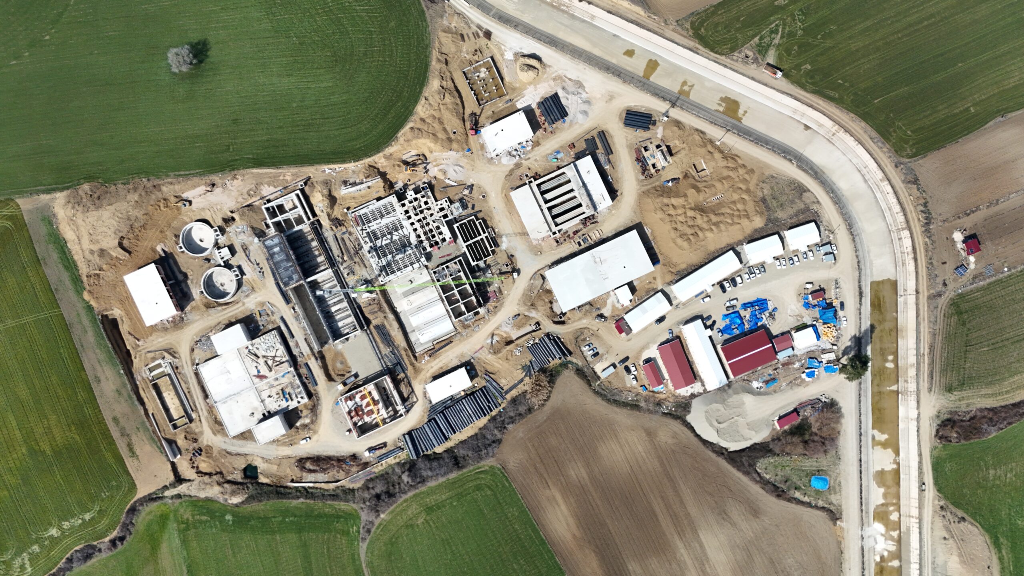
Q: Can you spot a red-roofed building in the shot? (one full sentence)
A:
Yes, there's a red-roofed building here.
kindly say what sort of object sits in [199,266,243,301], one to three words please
storage tank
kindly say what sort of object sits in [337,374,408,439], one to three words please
building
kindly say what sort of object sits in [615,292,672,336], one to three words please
shed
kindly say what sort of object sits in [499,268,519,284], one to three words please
vehicle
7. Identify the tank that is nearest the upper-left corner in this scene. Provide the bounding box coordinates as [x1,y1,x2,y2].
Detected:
[177,221,224,257]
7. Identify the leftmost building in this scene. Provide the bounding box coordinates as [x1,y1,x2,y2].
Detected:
[124,264,183,327]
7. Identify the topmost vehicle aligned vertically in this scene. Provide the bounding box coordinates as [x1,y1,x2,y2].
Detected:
[466,110,479,139]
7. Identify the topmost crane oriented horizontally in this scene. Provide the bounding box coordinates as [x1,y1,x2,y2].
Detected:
[315,277,505,296]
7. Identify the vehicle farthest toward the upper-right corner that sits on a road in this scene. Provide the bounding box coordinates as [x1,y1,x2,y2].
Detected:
[763,62,785,78]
